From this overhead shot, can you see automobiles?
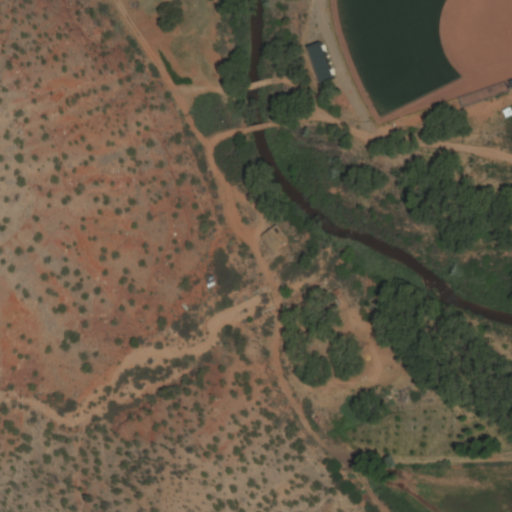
No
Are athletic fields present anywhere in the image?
No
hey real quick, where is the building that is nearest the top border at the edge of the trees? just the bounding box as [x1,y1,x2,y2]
[306,41,334,82]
